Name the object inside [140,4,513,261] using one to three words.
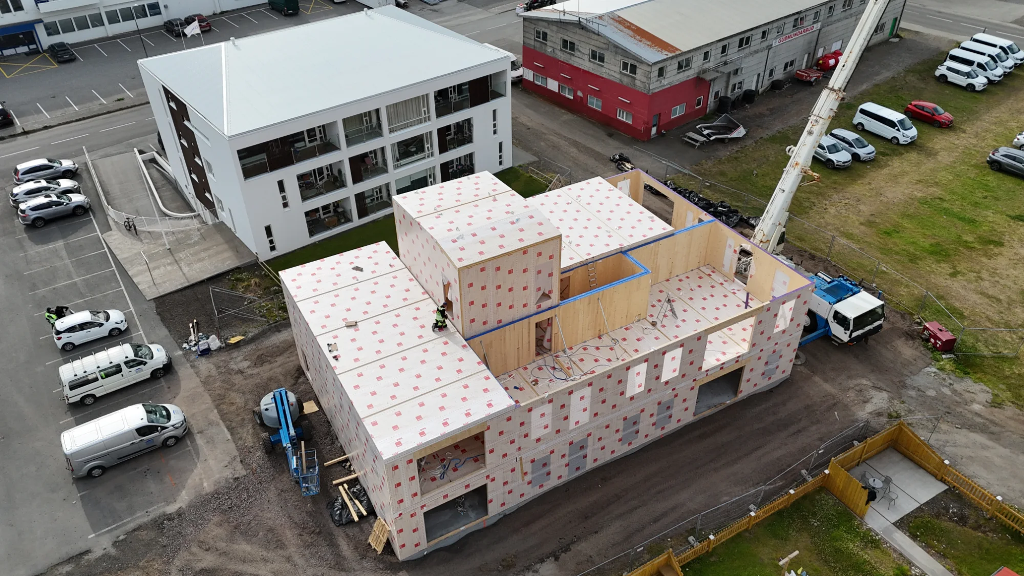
house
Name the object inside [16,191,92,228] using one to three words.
car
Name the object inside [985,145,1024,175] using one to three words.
car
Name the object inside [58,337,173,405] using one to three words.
van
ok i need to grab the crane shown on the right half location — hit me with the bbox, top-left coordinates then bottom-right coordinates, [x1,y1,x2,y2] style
[717,0,891,363]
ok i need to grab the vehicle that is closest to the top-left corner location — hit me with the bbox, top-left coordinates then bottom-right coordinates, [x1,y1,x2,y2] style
[47,39,76,62]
